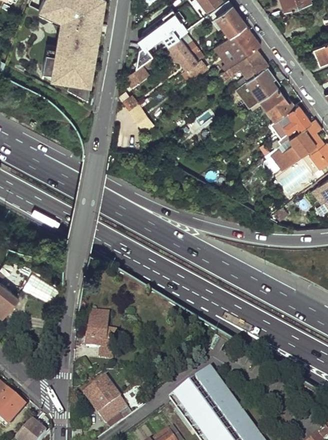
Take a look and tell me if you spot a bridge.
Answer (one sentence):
Yes, the photo shows a bridge.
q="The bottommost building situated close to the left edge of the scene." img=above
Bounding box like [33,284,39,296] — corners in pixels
[15,416,46,440]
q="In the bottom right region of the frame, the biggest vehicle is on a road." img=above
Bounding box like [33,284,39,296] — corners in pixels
[224,312,256,334]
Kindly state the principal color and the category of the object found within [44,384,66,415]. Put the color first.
white bus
